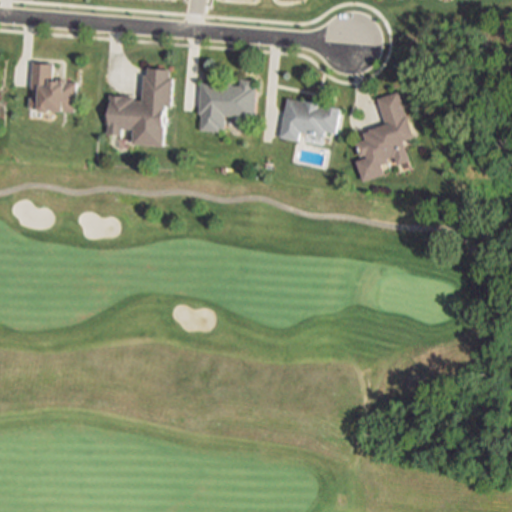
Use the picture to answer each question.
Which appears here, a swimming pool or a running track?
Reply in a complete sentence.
Visible in the photo is a swimming pool.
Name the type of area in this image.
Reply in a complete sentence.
This image shows a golf course.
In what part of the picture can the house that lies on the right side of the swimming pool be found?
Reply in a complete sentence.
You can find the house that lies on the right side of the swimming pool in the top right area of the picture.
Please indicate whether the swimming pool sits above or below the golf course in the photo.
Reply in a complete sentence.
The swimming pool appears above the golf course in the picture.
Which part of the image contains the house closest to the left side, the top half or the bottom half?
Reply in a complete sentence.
Seen from above, the house closest to the left side lies in the top half of the view.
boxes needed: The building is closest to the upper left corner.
[28,62,79,114]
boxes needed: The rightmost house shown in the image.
[354,92,418,182]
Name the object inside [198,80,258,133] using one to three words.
house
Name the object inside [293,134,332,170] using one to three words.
swimming pool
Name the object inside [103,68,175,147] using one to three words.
house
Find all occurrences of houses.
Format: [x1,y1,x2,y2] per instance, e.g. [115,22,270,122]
[280,98,342,148]
[354,92,418,182]
[198,80,258,133]
[103,68,175,147]
[28,62,79,114]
